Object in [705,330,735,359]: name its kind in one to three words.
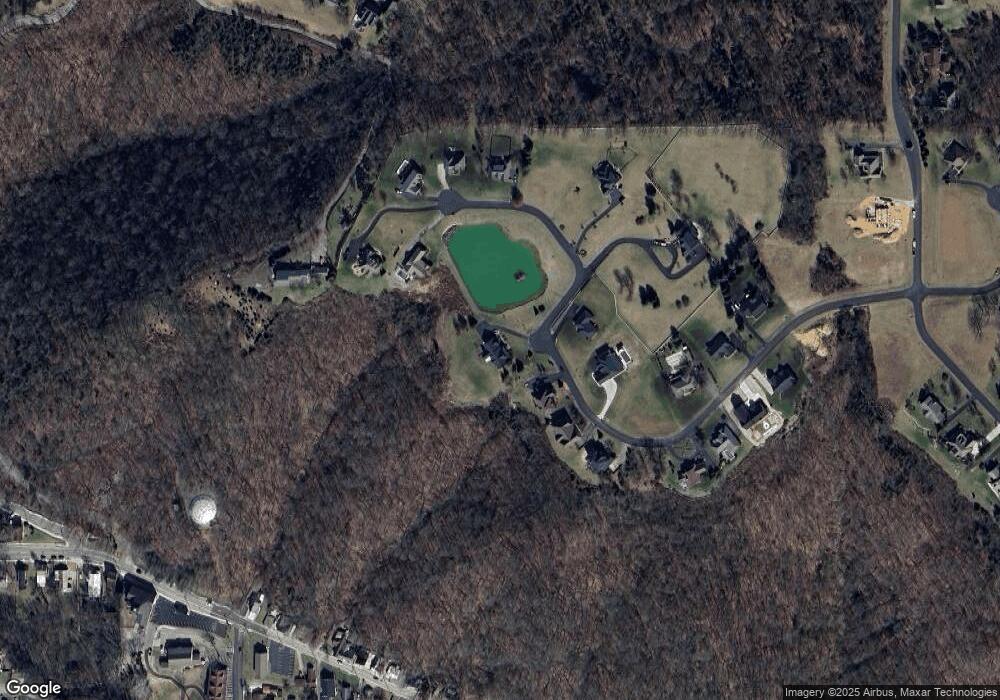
house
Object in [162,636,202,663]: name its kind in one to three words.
building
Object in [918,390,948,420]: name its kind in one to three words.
house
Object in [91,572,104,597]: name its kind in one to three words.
building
